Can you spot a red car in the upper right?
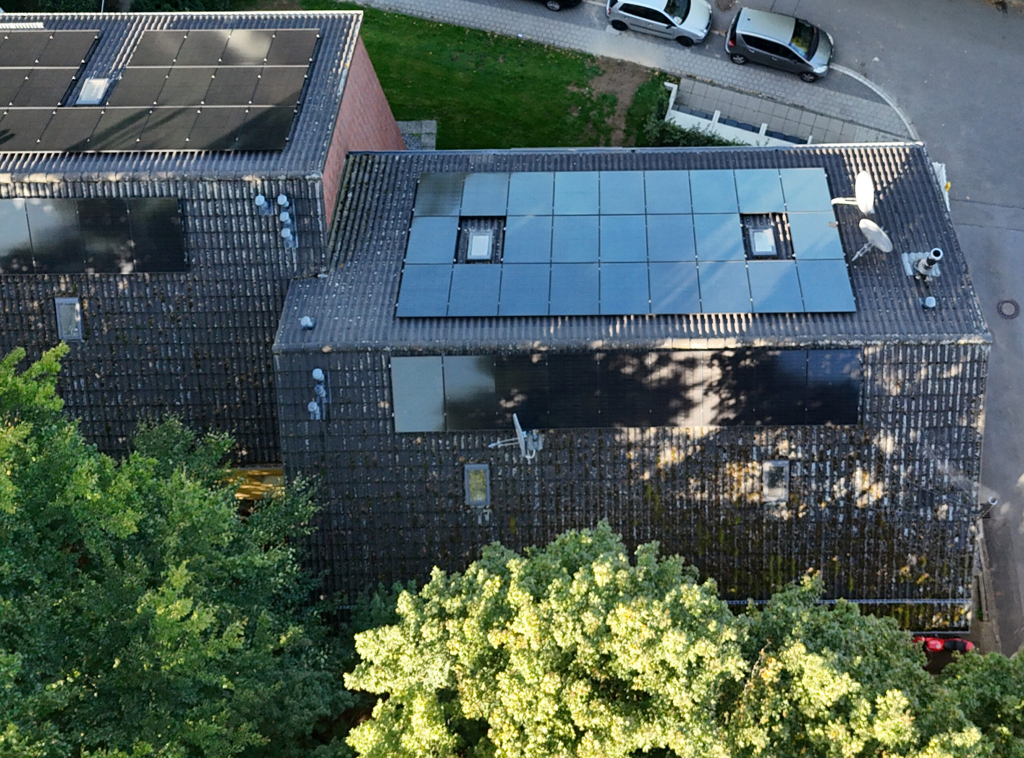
No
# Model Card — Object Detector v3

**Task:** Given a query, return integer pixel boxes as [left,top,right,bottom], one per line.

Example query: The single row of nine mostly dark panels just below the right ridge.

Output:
[390,350,862,432]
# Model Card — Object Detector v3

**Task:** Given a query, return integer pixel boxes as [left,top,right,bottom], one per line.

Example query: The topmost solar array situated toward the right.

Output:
[395,167,855,317]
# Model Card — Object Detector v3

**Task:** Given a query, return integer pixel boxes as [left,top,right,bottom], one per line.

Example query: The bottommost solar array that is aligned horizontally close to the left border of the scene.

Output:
[0,198,188,276]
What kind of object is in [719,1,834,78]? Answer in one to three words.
car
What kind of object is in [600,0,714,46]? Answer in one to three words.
car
